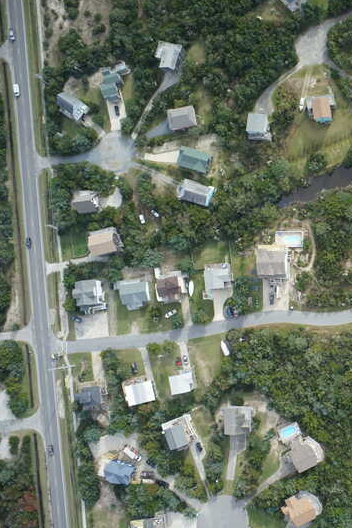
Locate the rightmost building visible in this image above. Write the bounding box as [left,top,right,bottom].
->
[307,95,337,125]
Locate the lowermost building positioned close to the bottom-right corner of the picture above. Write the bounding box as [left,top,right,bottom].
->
[279,490,322,526]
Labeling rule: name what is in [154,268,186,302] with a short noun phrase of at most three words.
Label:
house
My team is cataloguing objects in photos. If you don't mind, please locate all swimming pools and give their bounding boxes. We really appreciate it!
[277,423,303,445]
[275,230,302,248]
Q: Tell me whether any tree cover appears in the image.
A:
Yes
